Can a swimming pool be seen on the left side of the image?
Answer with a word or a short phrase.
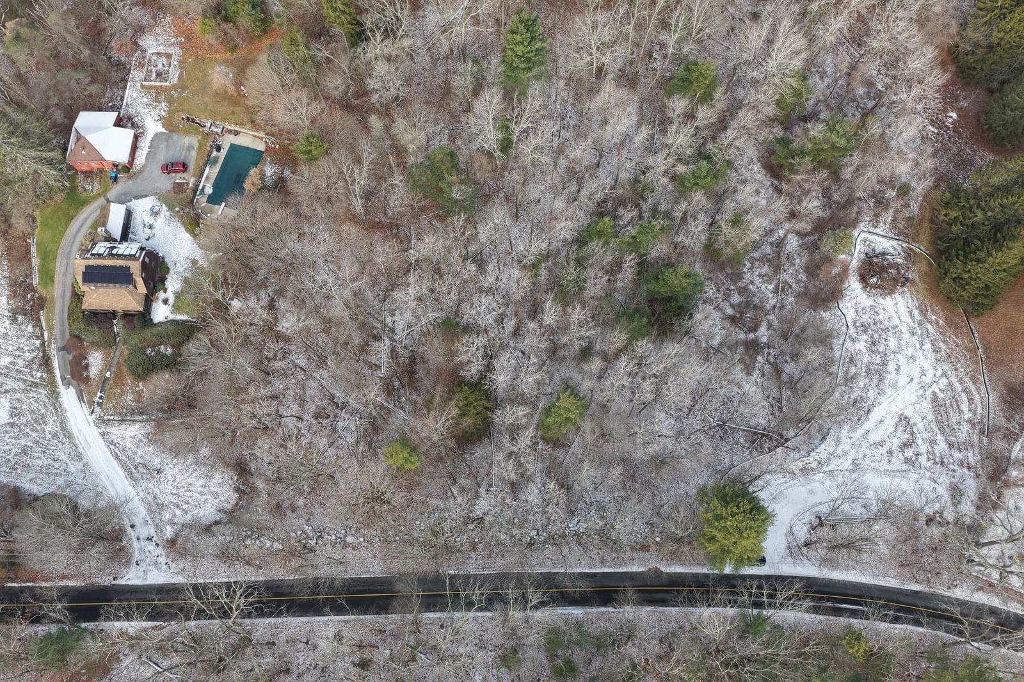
Yes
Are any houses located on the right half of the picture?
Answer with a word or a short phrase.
No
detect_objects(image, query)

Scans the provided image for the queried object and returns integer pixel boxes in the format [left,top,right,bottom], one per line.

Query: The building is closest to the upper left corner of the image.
[65,111,141,173]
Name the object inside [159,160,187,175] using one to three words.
car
